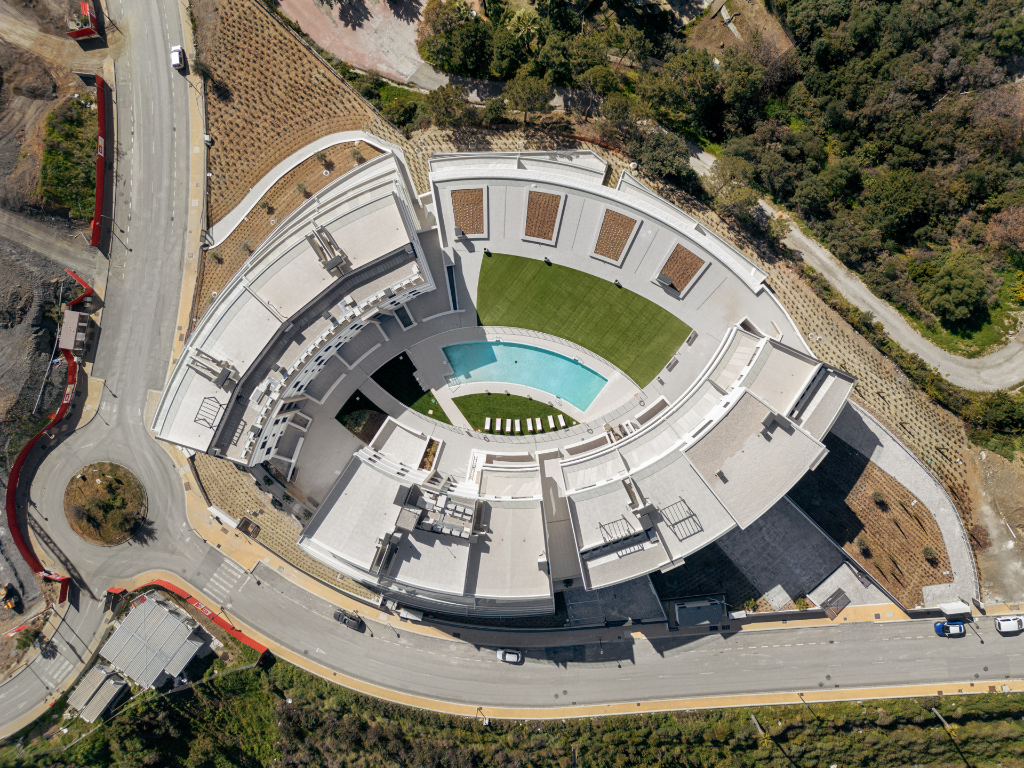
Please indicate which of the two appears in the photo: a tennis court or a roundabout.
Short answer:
roundabout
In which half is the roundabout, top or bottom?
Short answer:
bottom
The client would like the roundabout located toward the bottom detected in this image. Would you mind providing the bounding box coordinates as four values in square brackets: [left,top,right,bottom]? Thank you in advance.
[62,461,148,546]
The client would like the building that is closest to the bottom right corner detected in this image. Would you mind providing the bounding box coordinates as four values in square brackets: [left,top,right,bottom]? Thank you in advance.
[674,598,728,627]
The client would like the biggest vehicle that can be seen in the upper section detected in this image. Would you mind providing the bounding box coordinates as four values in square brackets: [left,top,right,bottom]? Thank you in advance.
[165,42,182,71]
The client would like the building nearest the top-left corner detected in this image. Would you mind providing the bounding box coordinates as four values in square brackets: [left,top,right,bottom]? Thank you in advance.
[59,310,93,351]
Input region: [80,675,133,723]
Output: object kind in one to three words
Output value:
shed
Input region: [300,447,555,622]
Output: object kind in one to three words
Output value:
building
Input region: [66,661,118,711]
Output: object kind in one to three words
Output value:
shed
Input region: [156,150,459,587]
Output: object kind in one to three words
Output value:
building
